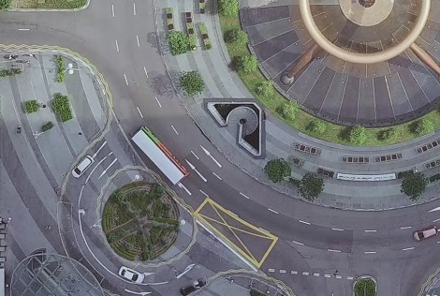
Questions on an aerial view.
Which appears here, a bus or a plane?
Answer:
bus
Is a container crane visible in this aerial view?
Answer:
No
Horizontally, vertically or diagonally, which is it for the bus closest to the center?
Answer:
diagonally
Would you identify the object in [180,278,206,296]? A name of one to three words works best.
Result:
car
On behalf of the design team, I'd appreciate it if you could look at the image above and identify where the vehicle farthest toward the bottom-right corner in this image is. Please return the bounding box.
[414,226,439,241]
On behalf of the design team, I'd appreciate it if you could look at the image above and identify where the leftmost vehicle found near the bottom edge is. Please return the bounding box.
[119,267,145,283]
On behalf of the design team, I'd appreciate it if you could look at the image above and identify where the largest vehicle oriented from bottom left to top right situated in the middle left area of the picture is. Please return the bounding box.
[73,154,95,177]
